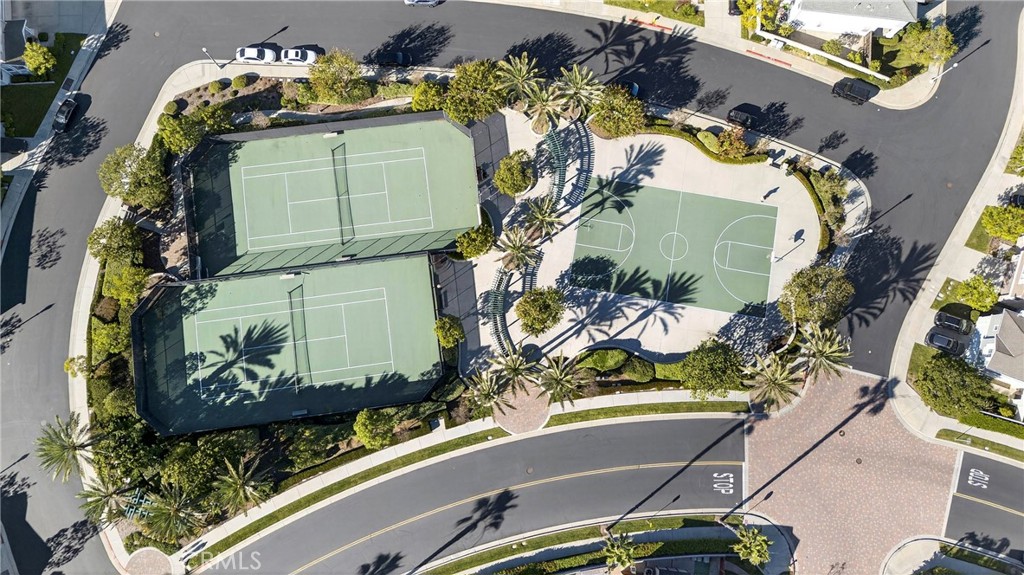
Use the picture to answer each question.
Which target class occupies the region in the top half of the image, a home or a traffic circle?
home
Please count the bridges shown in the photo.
zero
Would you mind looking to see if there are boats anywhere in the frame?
No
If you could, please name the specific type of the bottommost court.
tennis court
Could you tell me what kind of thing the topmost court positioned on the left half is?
tennis court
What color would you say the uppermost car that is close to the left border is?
black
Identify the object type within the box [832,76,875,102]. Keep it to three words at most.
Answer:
truck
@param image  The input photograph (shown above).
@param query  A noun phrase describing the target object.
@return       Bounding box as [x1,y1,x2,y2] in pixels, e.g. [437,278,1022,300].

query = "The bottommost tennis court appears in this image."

[142,251,440,433]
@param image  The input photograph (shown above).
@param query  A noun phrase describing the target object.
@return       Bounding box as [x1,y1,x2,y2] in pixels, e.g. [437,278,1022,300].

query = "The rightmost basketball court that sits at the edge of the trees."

[570,176,776,318]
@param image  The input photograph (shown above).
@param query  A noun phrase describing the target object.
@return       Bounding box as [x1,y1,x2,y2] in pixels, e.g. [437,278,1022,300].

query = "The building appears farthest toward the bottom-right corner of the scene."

[980,308,1024,375]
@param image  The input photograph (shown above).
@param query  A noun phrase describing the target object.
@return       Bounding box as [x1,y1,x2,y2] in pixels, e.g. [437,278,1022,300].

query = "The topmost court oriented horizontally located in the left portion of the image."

[193,119,480,281]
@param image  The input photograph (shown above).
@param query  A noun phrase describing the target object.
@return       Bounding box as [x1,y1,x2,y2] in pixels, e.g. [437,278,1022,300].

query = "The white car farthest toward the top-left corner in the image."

[237,45,274,63]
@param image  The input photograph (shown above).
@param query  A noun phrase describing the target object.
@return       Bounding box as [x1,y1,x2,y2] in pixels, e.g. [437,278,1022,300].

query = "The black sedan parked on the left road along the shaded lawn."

[49,94,76,131]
